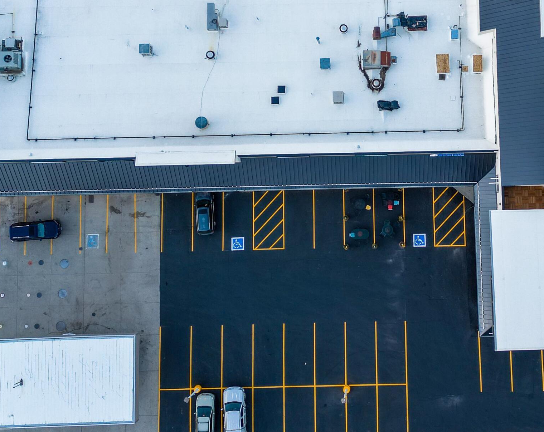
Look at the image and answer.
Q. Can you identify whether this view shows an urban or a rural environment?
urban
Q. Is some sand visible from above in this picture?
No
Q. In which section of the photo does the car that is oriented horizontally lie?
left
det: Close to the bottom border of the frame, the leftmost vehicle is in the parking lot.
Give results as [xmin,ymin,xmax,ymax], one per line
[192,388,218,432]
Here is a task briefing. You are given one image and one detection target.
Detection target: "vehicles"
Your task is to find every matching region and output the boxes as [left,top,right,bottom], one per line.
[192,388,218,432]
[192,193,219,238]
[219,382,248,432]
[7,216,66,243]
